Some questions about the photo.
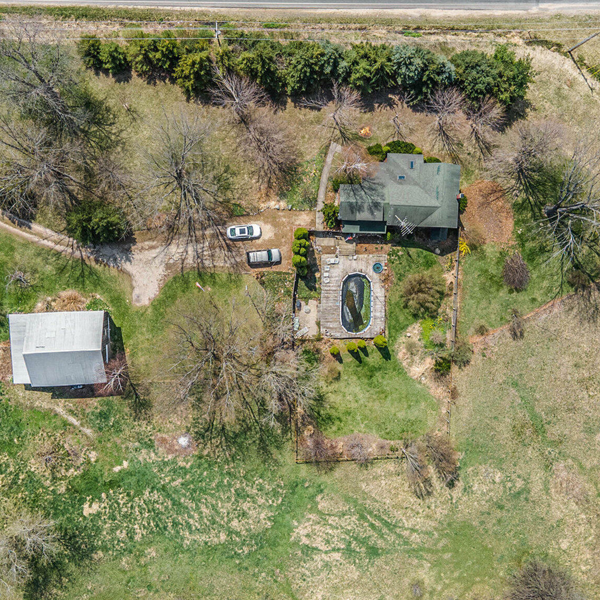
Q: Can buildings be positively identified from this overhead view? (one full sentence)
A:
Yes, a building can be made out from above.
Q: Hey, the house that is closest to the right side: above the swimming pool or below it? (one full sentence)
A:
The position of the house that is closest to the right side is above the swimming pool.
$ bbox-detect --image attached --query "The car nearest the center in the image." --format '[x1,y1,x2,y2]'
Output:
[248,249,282,264]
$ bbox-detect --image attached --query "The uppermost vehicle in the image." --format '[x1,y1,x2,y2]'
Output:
[227,224,261,240]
